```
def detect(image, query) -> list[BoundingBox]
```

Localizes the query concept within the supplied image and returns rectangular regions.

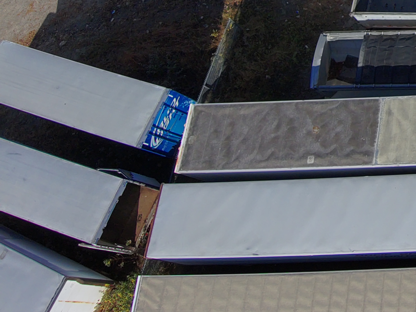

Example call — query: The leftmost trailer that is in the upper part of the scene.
[0,39,190,167]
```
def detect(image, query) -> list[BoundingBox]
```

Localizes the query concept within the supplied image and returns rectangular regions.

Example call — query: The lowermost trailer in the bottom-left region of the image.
[0,227,122,312]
